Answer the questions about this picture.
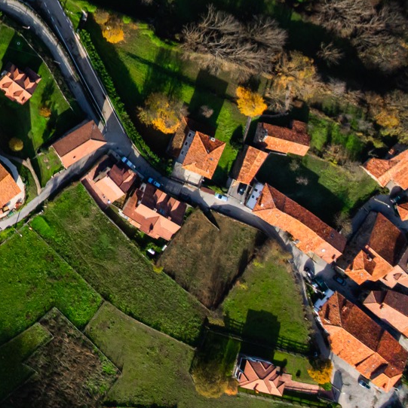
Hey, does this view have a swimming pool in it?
No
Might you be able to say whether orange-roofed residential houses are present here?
Yes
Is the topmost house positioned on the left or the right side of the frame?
left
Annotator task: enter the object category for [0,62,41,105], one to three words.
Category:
house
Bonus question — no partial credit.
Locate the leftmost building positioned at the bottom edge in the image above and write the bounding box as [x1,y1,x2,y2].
[228,349,284,397]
